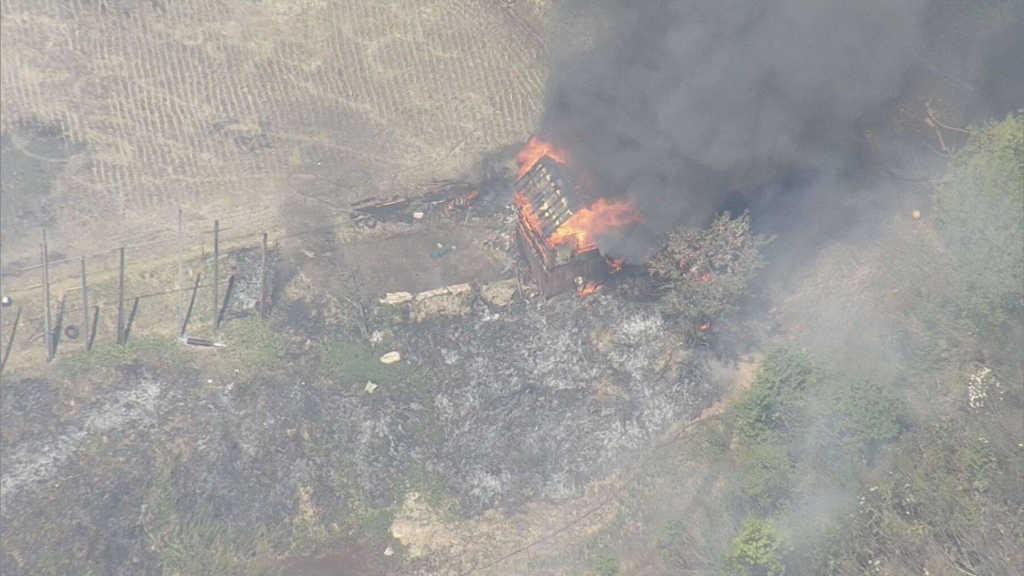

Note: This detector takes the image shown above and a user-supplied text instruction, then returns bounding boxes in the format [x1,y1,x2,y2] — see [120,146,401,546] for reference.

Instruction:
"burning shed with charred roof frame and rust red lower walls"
[511,153,606,300]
